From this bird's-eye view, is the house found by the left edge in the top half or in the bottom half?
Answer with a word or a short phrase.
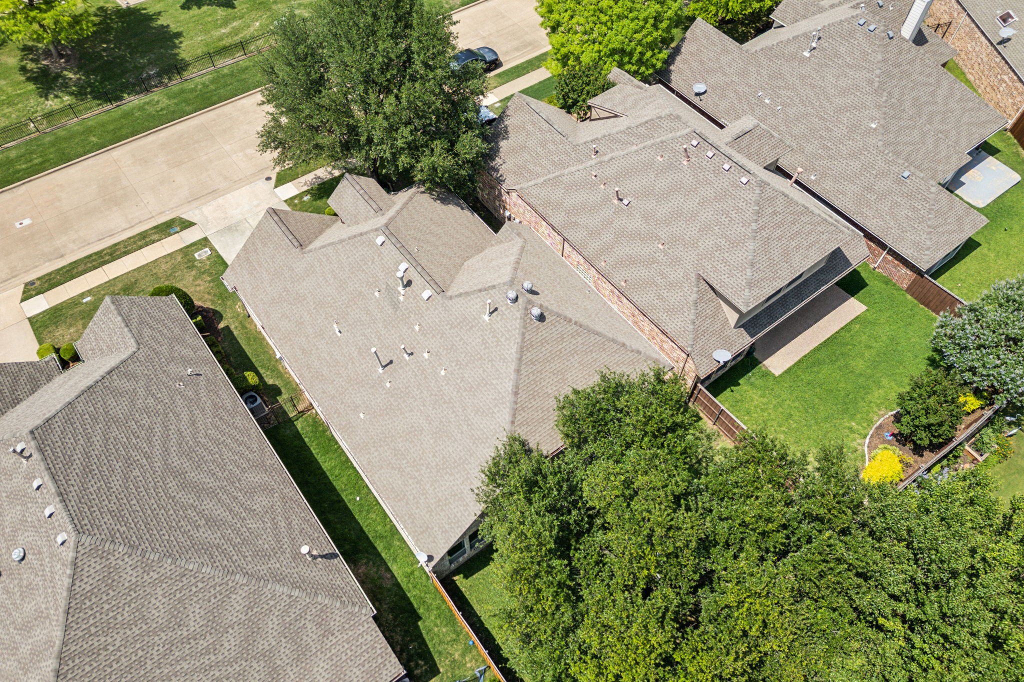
bottom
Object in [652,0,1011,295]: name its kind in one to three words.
house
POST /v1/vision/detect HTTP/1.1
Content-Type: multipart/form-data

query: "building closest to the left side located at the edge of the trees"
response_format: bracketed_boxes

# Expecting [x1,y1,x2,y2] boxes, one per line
[0,292,407,682]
